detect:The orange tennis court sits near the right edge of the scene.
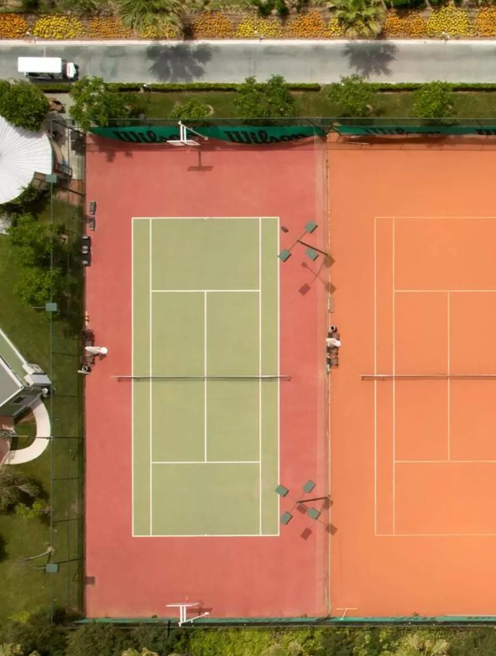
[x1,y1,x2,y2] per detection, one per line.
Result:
[329,135,496,615]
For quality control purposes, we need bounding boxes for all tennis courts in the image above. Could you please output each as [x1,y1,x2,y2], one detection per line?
[329,135,496,615]
[85,135,329,616]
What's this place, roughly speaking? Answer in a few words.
sports ground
